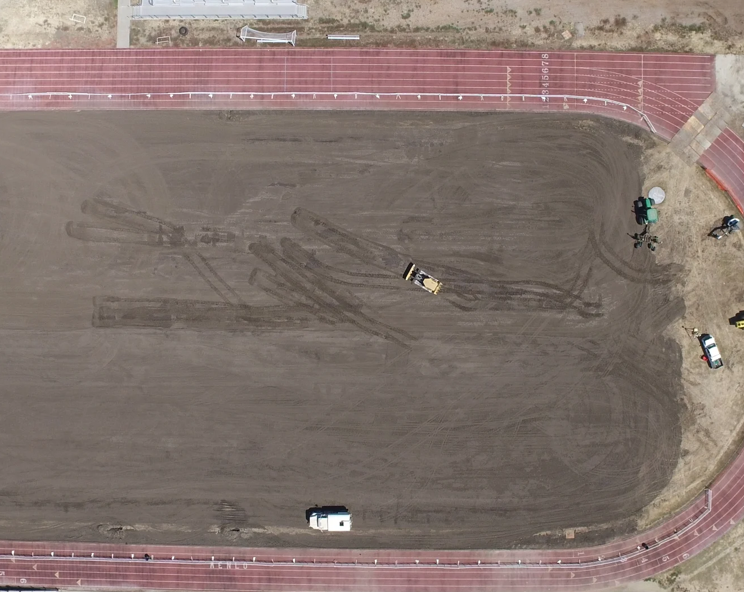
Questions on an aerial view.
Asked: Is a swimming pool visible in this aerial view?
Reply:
No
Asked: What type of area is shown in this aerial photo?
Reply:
sports ground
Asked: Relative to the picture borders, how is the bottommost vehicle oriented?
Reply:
from left to right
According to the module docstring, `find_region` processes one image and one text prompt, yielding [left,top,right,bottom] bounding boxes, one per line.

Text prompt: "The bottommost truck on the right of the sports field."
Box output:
[700,334,725,372]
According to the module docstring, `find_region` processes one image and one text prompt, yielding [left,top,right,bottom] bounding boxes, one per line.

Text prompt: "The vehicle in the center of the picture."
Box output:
[407,265,441,292]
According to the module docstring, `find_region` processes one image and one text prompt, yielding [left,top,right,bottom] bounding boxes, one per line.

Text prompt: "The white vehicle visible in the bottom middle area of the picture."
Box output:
[308,511,353,531]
